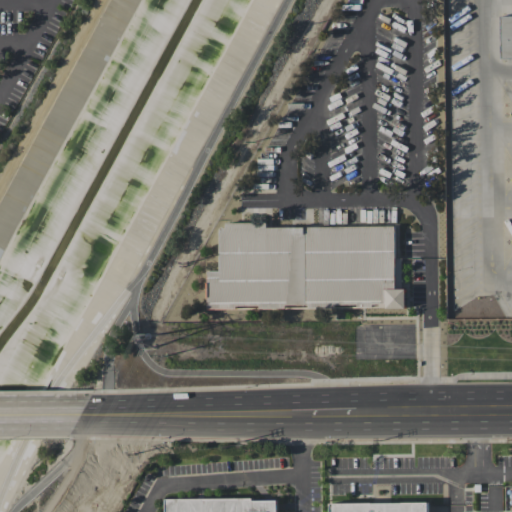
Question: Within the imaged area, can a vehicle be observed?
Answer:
Yes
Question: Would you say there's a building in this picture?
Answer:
Yes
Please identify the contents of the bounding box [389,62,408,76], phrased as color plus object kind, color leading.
white camper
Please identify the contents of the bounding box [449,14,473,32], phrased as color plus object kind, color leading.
white vehicle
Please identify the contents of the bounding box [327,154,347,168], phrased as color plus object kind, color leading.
white camper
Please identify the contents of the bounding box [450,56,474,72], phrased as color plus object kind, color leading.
white vehicle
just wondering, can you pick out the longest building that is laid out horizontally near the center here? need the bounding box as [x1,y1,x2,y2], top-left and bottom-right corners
[208,223,404,310]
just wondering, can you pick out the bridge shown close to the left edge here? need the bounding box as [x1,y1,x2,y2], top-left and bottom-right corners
[0,390,114,439]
